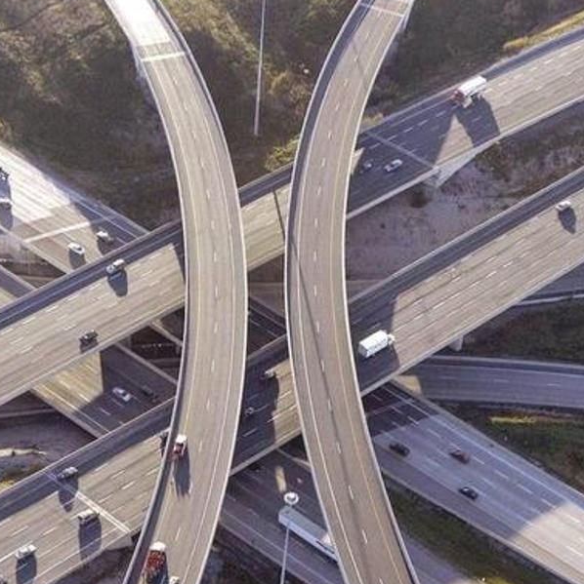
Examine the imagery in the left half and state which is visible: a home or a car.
car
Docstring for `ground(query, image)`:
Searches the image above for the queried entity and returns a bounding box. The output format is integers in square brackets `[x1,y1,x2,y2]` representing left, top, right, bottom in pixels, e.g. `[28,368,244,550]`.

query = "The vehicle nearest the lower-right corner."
[456,484,481,502]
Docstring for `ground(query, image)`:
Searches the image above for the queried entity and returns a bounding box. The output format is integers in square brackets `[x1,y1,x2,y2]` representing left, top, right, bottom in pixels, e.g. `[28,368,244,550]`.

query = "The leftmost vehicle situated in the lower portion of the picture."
[11,543,39,562]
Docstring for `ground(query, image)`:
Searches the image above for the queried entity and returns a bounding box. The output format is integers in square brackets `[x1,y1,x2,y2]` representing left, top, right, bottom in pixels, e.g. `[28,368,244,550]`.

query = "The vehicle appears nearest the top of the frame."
[452,73,486,102]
